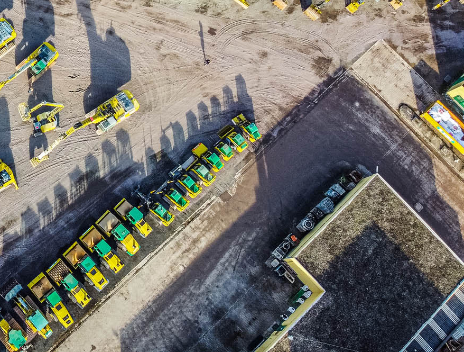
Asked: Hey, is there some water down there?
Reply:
No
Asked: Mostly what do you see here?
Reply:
paved ground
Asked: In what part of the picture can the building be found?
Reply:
bottom right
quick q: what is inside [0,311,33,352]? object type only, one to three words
work vehicle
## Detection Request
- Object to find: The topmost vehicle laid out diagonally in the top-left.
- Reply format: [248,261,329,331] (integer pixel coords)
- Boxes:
[0,38,65,95]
